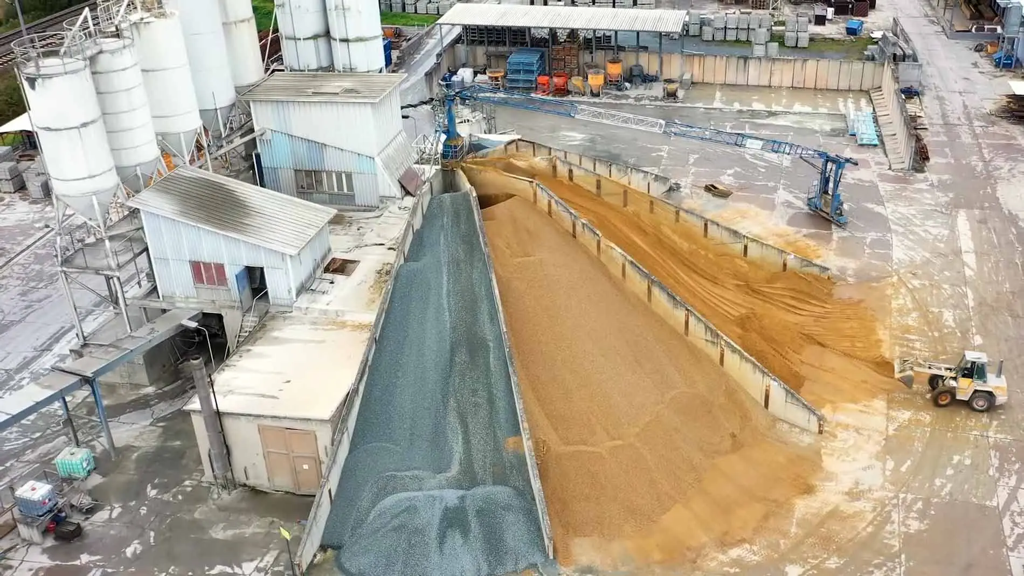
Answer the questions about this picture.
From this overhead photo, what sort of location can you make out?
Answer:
industrial area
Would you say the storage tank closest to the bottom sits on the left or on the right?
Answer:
left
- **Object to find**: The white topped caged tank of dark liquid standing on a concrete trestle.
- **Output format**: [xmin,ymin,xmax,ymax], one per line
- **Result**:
[9,478,57,526]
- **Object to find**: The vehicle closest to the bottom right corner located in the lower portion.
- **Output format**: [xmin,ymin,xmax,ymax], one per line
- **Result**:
[891,345,1019,416]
